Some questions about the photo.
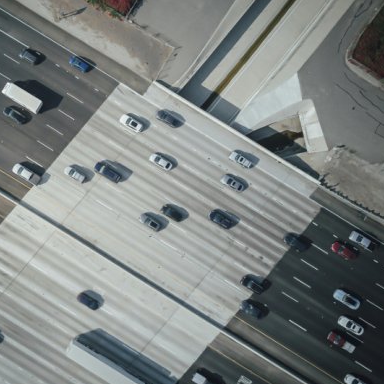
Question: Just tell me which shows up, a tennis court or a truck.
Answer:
truck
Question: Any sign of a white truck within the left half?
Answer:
Yes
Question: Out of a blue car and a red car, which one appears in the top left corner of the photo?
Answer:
blue car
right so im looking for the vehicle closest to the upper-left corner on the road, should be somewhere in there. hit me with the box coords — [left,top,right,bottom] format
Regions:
[18,50,41,68]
